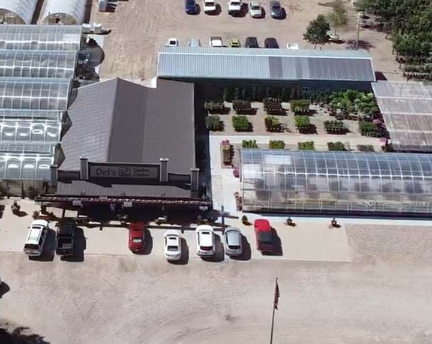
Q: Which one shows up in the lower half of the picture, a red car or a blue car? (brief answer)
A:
red car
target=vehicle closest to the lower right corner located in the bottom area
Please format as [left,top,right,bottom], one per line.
[253,216,274,248]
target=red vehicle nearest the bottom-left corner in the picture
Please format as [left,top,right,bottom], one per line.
[126,218,147,252]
